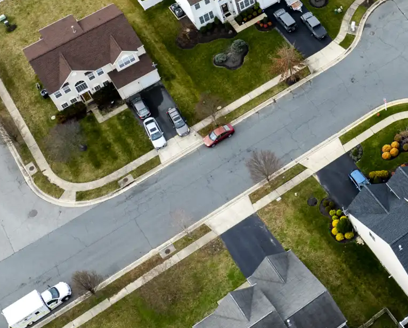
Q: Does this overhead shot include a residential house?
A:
Yes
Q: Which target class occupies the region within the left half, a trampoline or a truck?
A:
truck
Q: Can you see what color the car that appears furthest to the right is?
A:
blue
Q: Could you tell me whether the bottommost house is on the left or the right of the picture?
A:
right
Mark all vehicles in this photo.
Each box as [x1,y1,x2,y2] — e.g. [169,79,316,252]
[126,94,150,122]
[273,8,297,32]
[0,291,70,328]
[302,10,328,40]
[345,167,373,196]
[201,123,237,151]
[164,106,189,137]
[142,118,165,149]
